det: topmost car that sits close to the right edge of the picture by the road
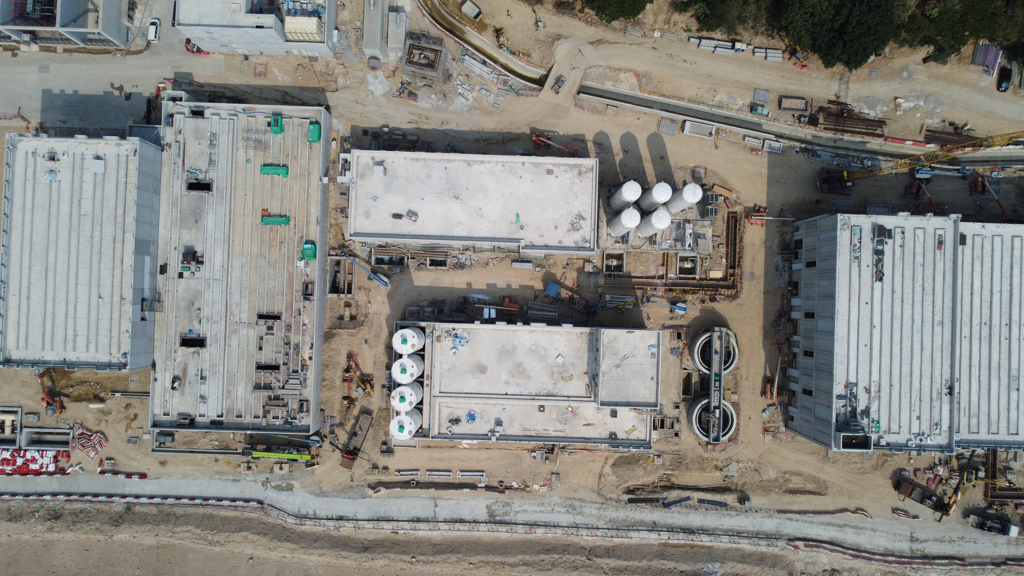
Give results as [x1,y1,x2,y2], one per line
[995,65,1013,93]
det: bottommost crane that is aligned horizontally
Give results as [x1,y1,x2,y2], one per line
[238,445,318,472]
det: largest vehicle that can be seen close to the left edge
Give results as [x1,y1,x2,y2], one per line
[29,371,70,420]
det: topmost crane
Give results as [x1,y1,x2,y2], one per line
[814,136,1024,197]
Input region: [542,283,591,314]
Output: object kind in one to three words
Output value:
truck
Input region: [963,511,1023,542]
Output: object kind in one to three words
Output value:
truck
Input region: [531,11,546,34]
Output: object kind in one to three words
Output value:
work vehicle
